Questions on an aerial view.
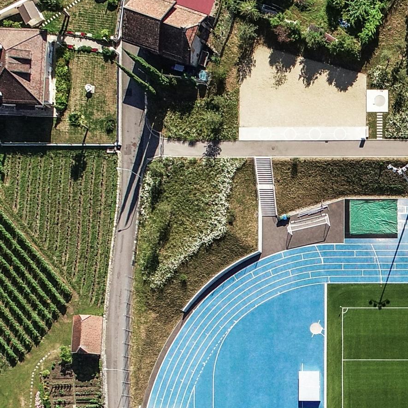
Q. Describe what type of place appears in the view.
sports ground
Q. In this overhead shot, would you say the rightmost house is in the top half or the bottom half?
top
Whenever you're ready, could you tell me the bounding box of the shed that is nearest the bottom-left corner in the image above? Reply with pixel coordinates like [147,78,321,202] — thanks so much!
[71,315,107,355]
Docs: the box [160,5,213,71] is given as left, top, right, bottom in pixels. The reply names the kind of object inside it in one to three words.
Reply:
house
